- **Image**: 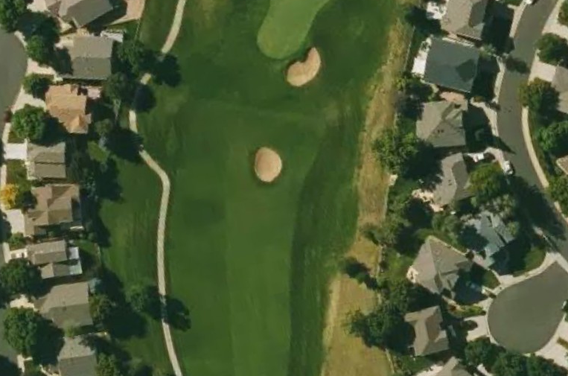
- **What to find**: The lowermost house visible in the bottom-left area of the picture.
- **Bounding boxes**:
[57,335,97,376]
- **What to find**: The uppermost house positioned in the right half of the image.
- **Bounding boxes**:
[440,0,488,38]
